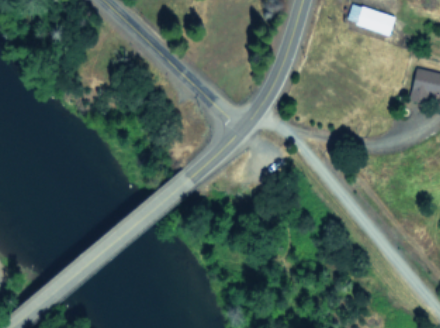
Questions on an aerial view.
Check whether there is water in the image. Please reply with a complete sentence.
Yes, there's water in this view.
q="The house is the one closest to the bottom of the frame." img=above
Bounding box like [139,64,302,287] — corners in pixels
[410,65,440,100]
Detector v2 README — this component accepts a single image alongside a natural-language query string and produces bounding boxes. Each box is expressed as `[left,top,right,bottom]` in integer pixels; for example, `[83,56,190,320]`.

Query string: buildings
[348,2,396,35]
[410,65,440,100]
